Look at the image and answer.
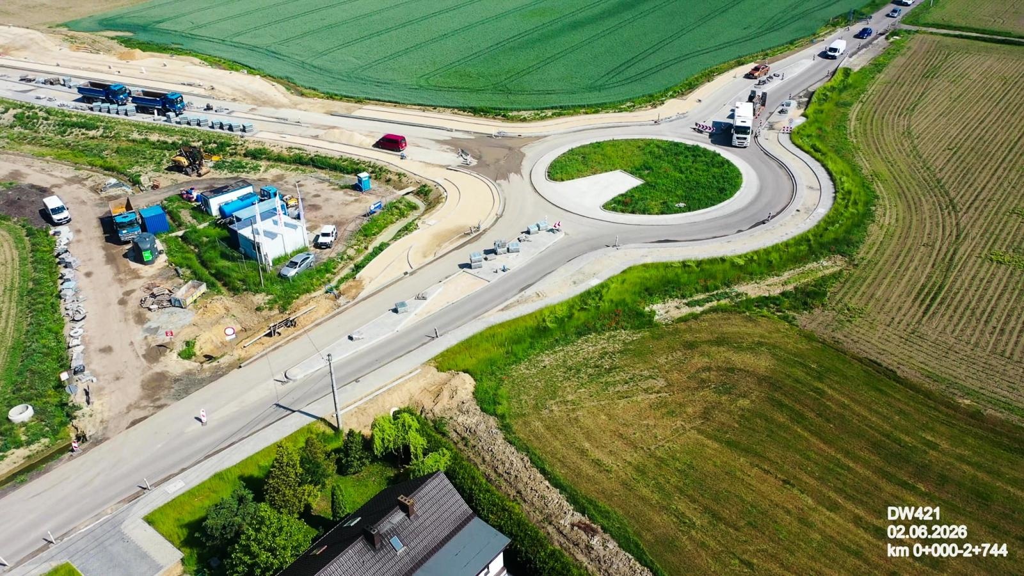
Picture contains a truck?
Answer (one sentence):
Yes, looking at the shot, I can spot a truck.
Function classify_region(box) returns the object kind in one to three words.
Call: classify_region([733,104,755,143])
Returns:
truck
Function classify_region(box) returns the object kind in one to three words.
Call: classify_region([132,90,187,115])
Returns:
truck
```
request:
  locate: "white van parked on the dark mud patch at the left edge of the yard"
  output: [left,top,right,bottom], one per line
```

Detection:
[41,194,69,221]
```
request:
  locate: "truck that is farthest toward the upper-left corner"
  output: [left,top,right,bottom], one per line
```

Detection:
[78,81,131,104]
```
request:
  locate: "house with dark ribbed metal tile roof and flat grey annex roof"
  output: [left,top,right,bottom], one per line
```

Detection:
[273,468,513,576]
